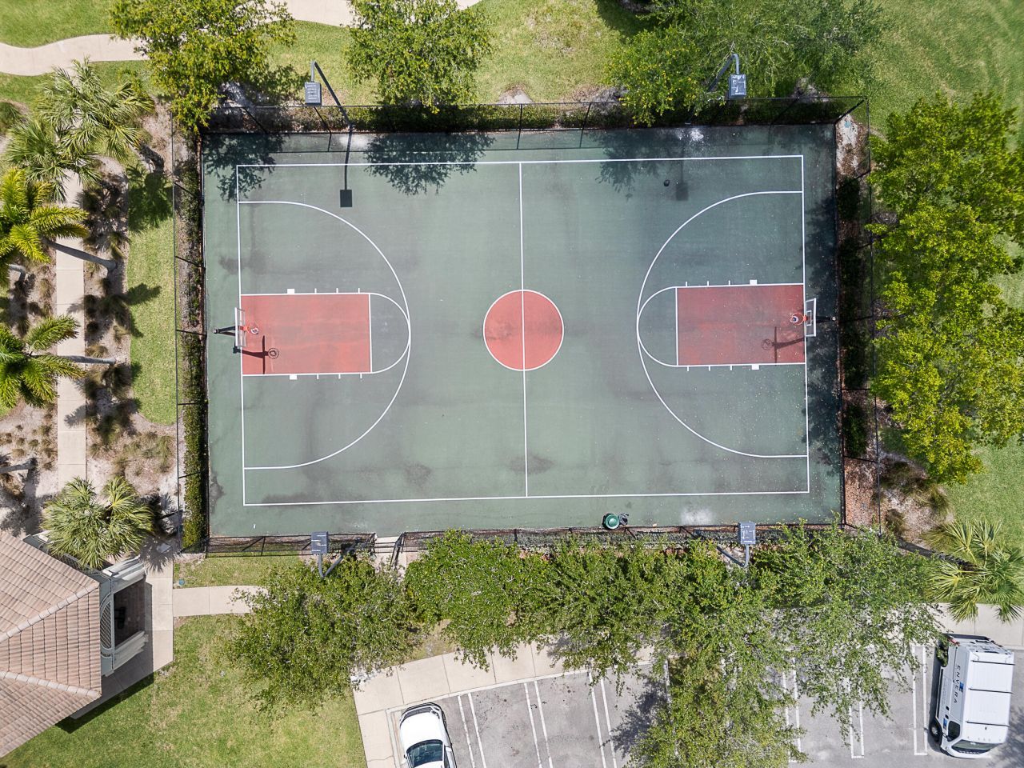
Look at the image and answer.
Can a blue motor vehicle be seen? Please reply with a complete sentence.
No, the scene contains no blue motor vehicle.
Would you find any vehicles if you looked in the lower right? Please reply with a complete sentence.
Yes, a vehicle can be seen in the lower right.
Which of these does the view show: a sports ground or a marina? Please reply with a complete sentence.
What you see here is a sports ground.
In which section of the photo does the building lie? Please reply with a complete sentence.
The building is located in the bottom left region of the scene.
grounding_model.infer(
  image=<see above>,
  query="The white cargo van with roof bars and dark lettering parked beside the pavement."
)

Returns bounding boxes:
[930,632,1016,761]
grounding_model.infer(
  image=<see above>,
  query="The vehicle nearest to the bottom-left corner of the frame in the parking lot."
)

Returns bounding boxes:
[400,702,454,768]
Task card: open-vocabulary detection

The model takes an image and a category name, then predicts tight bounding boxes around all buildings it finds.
[0,525,145,758]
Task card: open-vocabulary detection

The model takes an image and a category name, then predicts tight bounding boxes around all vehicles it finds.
[400,702,454,768]
[930,632,1016,761]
